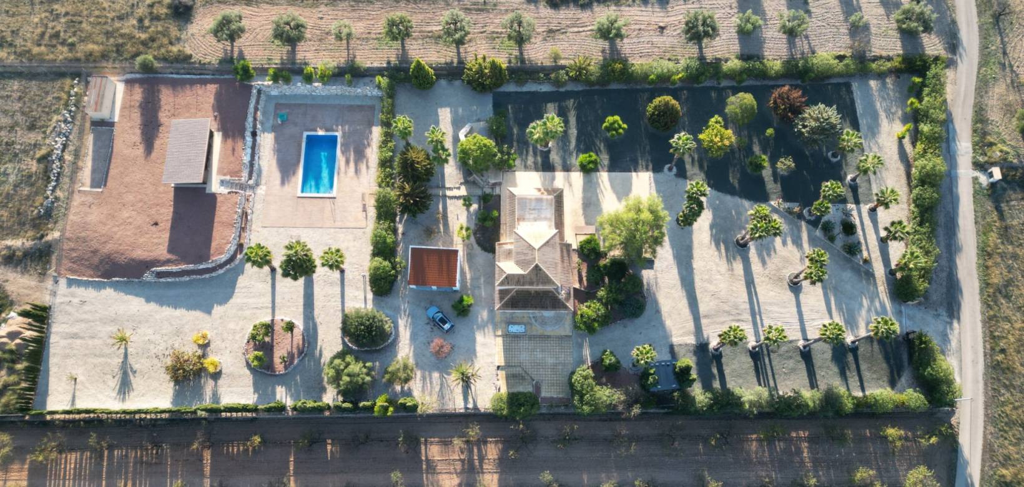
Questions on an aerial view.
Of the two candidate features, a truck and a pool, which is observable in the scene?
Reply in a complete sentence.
The one in the frame is a pool.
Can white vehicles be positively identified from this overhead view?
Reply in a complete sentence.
No, this view has no white vehicle in it.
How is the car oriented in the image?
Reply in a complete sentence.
Seen from above, the car lies at an angle.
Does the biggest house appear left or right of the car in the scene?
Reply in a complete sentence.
It is on the right side of the car that the biggest house is positioned.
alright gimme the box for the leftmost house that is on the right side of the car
[495,186,573,315]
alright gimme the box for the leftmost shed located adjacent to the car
[407,245,462,293]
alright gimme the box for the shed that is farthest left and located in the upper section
[86,75,119,124]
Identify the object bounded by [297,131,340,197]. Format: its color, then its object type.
blue swimming pool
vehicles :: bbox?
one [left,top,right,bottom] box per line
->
[425,303,456,334]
